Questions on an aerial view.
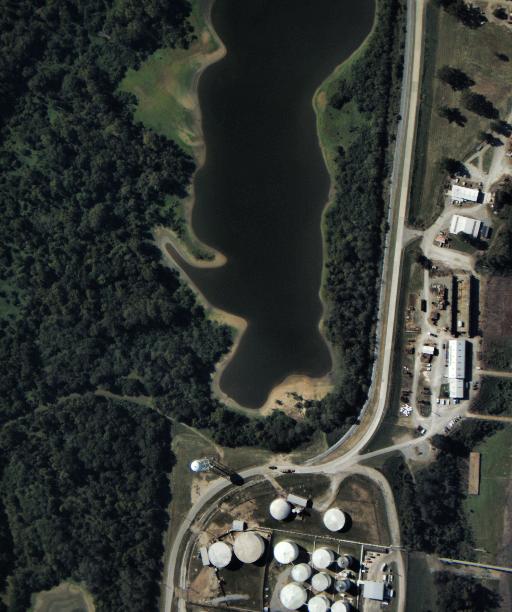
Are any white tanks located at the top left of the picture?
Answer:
No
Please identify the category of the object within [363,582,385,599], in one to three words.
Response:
building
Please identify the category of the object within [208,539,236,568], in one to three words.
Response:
storage tank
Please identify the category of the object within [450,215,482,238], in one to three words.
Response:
building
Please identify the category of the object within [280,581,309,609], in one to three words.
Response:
storage tank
